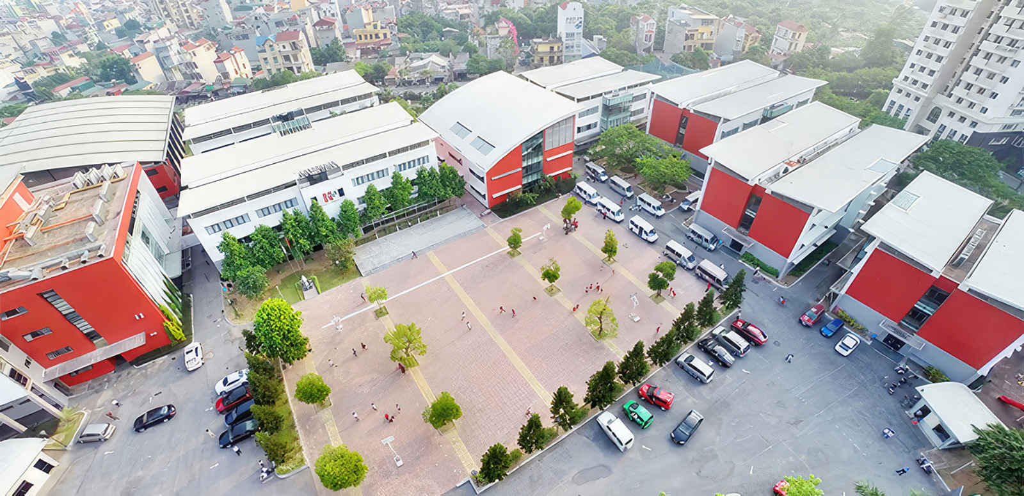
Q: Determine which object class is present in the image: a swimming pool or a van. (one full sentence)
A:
Visible in the photo is a van.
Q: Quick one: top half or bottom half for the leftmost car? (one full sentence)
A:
It is in the bottom half that the leftmost car appears.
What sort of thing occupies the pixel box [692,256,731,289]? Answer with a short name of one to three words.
vehicle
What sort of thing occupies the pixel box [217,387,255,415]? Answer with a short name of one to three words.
car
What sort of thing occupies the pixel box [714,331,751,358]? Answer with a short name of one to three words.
car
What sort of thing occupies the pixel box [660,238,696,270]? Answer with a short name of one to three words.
vehicle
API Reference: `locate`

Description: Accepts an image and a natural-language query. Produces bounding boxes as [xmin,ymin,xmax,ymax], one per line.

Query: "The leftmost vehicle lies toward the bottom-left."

[75,423,118,446]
